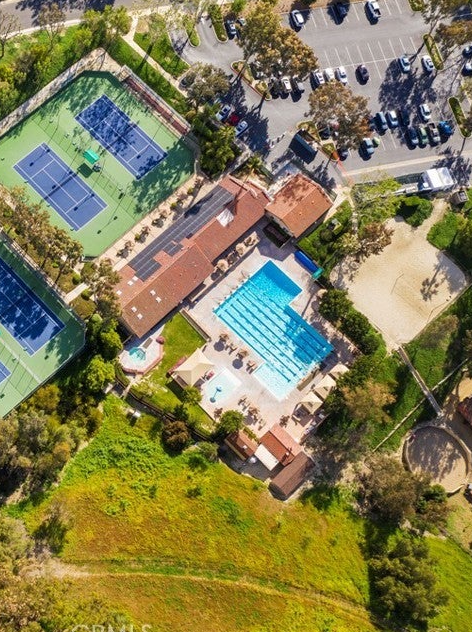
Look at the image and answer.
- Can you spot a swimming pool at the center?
Yes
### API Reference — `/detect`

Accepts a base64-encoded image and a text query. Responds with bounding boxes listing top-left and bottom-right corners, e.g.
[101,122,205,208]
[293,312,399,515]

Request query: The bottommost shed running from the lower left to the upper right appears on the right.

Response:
[264,450,315,500]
